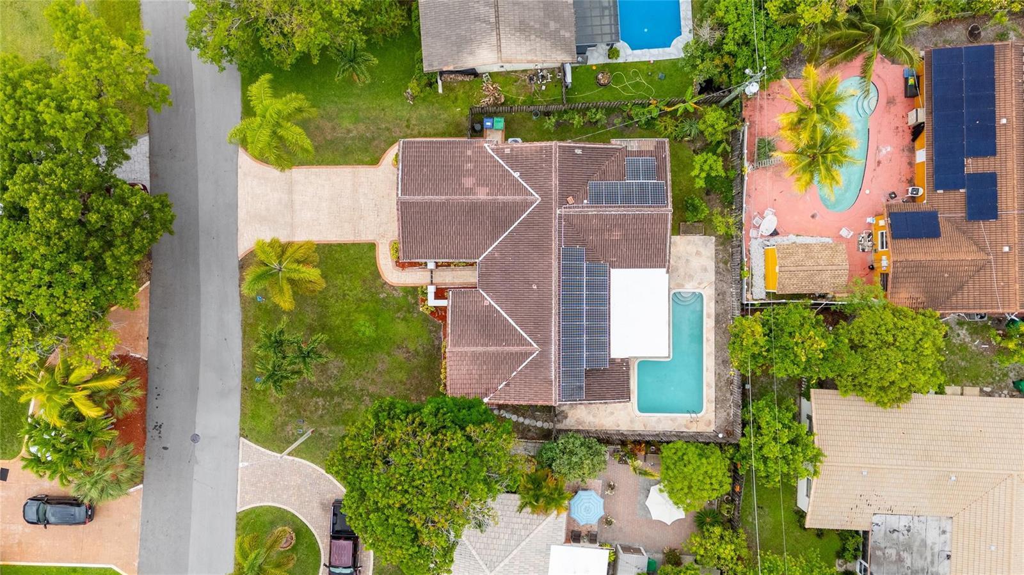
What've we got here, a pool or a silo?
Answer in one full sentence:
This aerial view contains a pool.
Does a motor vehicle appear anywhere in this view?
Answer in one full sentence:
Yes, the picture does show a motor vehicle.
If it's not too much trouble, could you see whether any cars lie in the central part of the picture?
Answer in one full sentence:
No, in the central part of the picture there is no car.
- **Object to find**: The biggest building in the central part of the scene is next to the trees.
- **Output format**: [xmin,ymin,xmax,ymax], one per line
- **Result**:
[395,138,674,407]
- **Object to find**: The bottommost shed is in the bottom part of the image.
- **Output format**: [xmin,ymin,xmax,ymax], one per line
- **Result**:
[618,546,650,575]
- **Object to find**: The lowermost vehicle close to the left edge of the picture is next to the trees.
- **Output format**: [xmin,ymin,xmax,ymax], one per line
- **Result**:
[25,493,97,530]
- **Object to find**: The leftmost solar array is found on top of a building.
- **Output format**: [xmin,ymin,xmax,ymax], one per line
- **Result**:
[561,247,609,402]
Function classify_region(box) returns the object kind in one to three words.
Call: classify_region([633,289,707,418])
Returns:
swimming pool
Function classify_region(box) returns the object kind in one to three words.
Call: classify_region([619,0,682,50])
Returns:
swimming pool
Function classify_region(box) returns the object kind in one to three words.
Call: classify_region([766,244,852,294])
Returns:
shed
